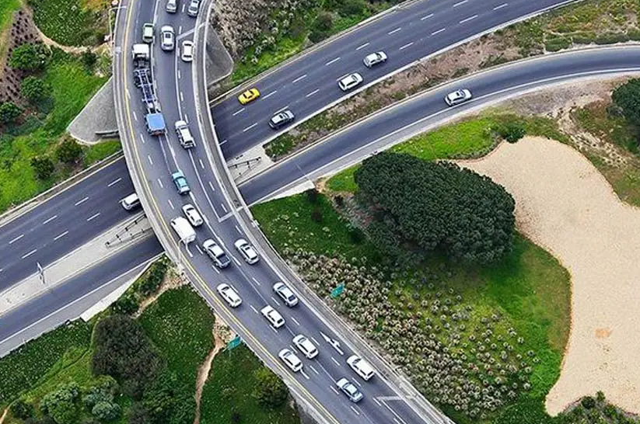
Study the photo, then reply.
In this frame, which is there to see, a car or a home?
car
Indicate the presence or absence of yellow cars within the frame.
Yes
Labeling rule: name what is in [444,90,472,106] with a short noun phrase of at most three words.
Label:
car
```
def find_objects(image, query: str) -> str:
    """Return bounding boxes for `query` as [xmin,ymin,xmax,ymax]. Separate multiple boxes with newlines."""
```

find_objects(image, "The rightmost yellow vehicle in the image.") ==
[237,89,261,106]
